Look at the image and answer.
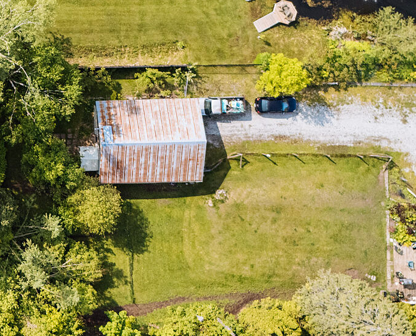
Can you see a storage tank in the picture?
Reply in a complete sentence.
No, there is no storage tank in the image.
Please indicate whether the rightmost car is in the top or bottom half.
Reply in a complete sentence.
You can find the rightmost car in the top half.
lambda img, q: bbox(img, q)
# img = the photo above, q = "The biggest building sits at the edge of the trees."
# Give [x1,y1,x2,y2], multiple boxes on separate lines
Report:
[96,98,207,184]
